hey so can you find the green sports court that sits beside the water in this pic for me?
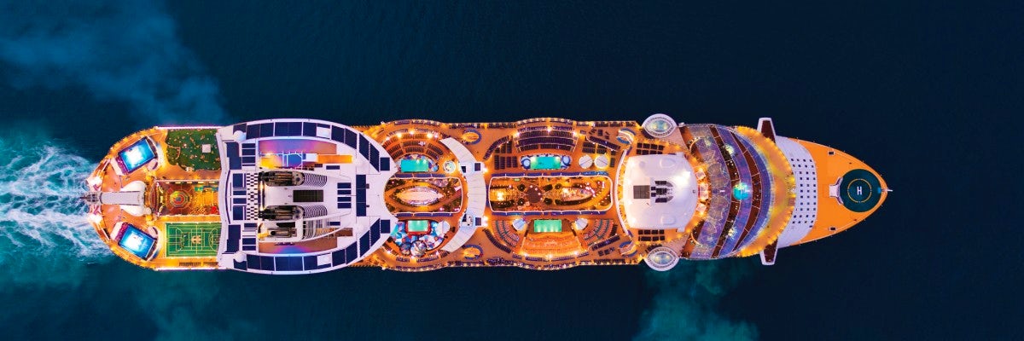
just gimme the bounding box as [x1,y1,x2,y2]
[165,223,222,257]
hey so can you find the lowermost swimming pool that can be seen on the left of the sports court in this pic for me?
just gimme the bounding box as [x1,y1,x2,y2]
[108,218,161,262]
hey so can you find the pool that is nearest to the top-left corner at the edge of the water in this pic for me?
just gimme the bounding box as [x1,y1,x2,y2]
[112,134,159,179]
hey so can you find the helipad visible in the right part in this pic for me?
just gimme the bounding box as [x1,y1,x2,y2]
[840,169,883,212]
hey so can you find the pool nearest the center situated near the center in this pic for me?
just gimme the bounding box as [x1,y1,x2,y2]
[521,154,573,171]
